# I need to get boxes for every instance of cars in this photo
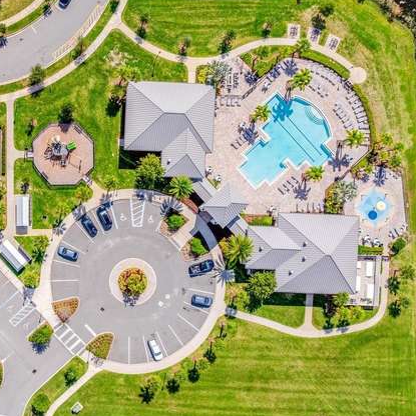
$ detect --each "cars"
[147,338,162,360]
[190,296,212,307]
[57,247,80,260]
[97,204,113,229]
[59,0,70,6]
[80,214,98,236]
[187,260,213,276]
